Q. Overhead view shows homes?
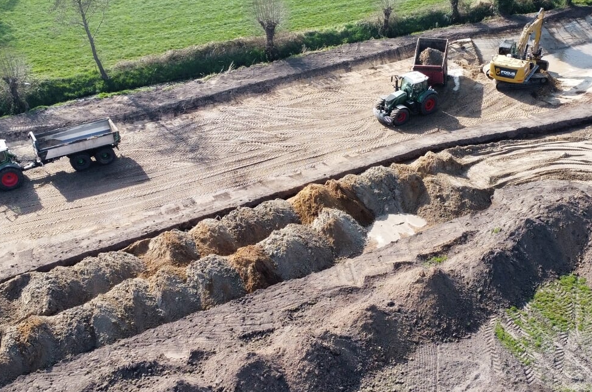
No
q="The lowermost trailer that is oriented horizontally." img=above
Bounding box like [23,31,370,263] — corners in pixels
[19,116,123,177]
